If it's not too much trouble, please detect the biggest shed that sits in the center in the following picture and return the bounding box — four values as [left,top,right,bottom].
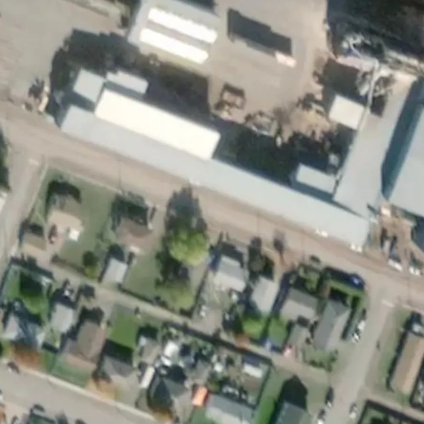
[58,107,373,246]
